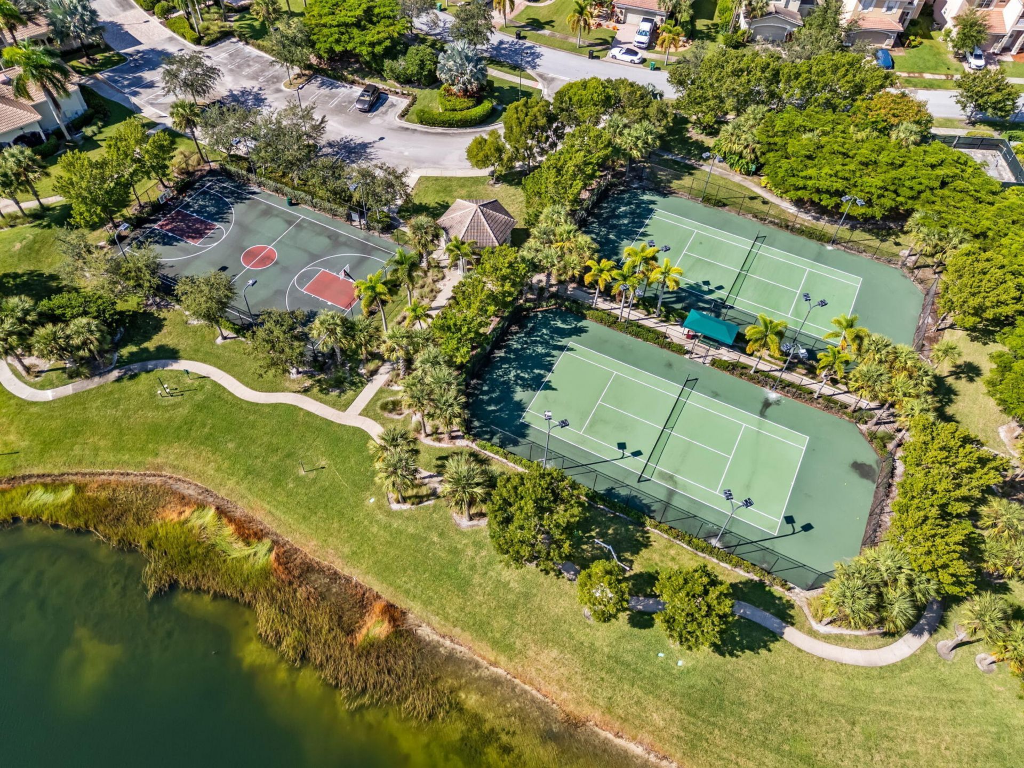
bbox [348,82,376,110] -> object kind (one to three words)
car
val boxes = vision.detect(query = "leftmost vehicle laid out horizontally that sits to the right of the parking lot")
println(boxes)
[612,47,646,63]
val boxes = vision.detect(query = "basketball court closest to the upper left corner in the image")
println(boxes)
[87,166,412,373]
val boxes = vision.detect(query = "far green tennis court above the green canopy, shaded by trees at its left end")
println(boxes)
[563,183,924,383]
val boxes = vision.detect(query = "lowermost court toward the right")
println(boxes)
[456,307,882,591]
